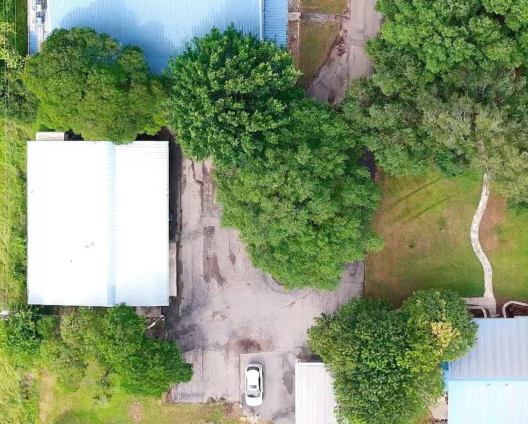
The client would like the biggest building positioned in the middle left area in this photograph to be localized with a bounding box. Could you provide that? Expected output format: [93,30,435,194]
[26,140,183,309]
